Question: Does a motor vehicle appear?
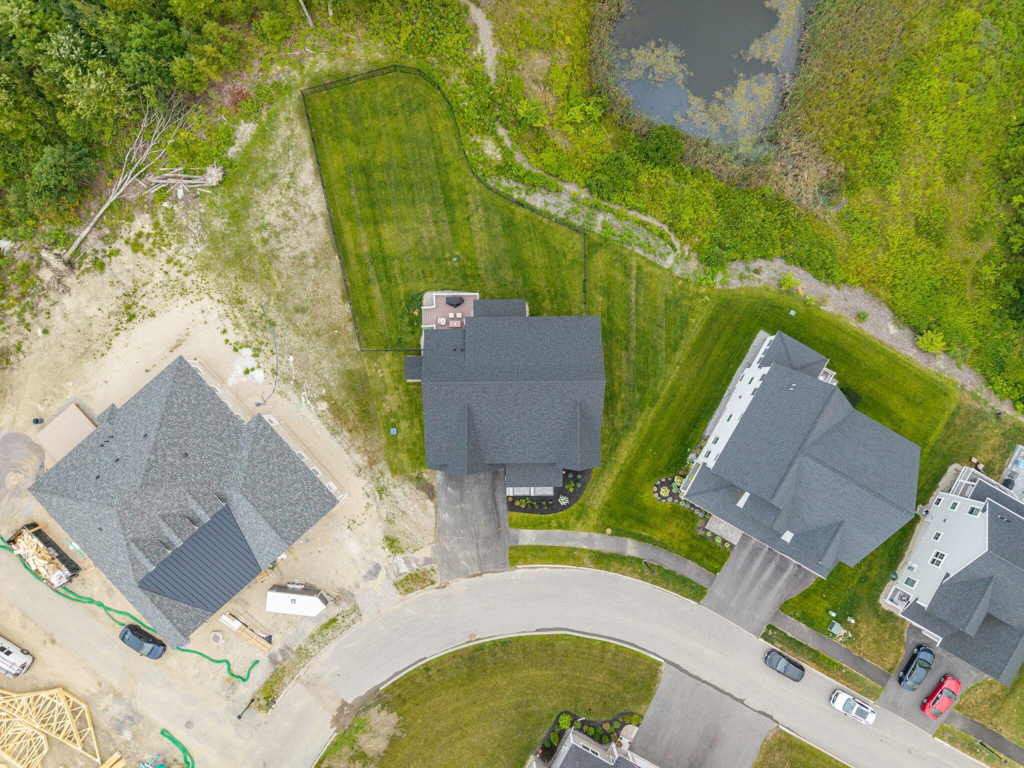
Yes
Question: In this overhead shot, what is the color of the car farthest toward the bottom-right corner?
red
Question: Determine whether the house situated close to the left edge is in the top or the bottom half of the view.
bottom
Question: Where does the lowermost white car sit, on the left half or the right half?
right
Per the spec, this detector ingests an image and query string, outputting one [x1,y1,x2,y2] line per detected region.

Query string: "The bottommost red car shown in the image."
[922,675,960,721]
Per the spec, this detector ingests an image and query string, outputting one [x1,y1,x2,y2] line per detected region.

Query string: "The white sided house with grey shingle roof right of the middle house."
[678,330,921,580]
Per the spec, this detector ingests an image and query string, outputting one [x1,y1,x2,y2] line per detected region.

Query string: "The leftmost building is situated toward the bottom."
[30,355,343,649]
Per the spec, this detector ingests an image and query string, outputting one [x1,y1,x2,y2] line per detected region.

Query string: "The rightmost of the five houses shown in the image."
[866,481,1024,692]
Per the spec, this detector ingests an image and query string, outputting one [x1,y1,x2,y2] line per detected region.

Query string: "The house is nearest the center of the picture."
[404,299,606,487]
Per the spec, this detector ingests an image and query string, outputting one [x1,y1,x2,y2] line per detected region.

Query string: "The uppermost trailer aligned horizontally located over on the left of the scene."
[265,584,337,616]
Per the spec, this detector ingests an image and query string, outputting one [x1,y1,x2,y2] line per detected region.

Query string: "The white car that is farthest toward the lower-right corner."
[829,691,879,728]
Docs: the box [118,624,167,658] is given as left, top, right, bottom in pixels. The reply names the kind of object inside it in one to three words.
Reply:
car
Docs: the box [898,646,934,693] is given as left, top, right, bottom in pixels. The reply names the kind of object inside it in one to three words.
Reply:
car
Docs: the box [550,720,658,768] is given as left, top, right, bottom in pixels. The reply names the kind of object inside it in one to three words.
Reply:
house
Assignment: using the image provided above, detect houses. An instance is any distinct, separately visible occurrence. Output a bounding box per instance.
[678,330,921,580]
[404,299,606,487]
[30,355,343,649]
[866,481,1024,692]
[550,720,658,768]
